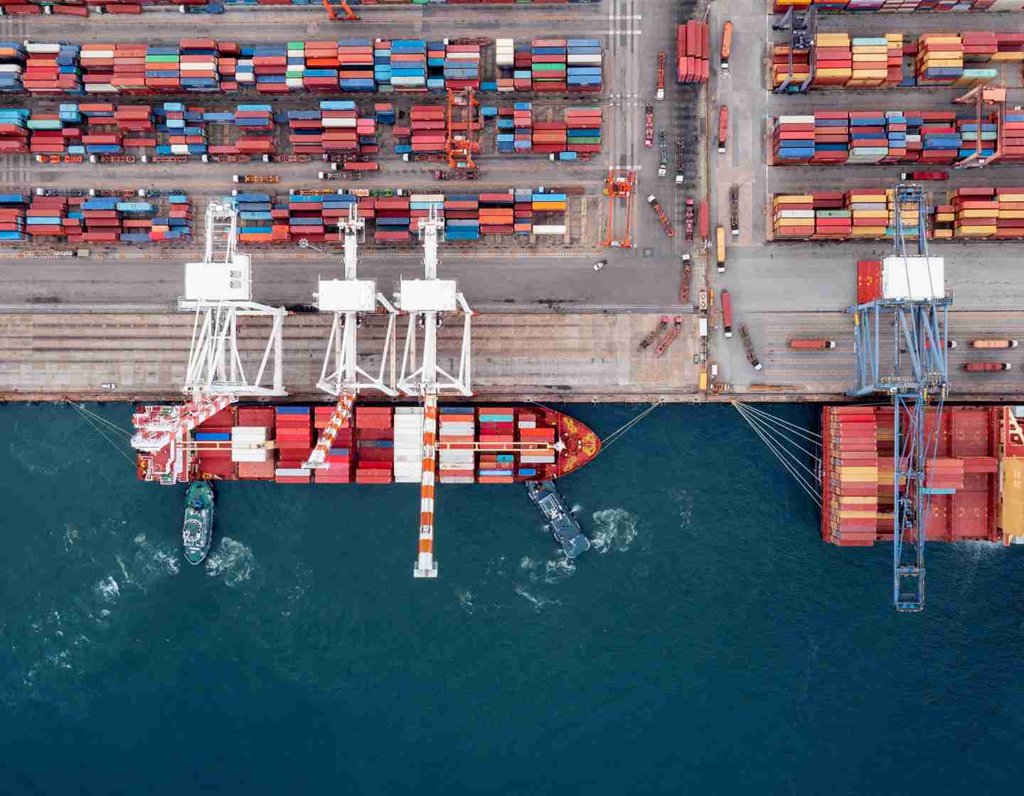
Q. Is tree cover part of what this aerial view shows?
No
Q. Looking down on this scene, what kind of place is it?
port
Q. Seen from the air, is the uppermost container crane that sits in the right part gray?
Yes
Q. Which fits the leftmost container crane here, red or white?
white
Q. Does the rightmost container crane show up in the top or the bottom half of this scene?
top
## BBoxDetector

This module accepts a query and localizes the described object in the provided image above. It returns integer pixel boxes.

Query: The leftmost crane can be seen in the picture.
[130,203,299,456]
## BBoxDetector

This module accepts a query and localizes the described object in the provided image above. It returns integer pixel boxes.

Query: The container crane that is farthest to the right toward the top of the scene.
[942,78,1005,168]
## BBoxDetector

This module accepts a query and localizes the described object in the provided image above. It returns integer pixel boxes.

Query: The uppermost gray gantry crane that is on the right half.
[766,3,817,91]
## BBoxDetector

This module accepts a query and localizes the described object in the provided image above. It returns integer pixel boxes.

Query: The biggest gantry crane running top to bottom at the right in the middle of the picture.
[831,186,955,610]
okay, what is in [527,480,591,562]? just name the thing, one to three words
boat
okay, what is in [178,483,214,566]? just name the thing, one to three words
boat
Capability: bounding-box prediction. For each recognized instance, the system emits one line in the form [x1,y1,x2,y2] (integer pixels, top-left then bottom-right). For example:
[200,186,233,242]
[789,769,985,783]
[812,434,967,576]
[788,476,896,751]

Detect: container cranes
[831,186,955,610]
[603,167,637,245]
[942,78,1005,168]
[396,201,485,576]
[766,3,817,91]
[445,84,484,167]
[130,203,299,456]
[298,201,411,471]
